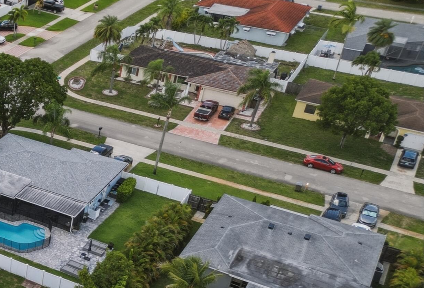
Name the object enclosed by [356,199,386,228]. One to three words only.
car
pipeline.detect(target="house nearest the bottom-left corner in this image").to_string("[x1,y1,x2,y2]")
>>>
[0,133,130,239]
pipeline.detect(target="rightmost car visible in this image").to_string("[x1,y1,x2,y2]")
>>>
[399,147,423,167]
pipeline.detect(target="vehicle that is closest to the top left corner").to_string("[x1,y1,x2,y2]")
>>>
[0,17,19,29]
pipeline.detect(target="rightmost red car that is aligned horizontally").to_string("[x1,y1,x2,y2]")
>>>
[303,155,346,174]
